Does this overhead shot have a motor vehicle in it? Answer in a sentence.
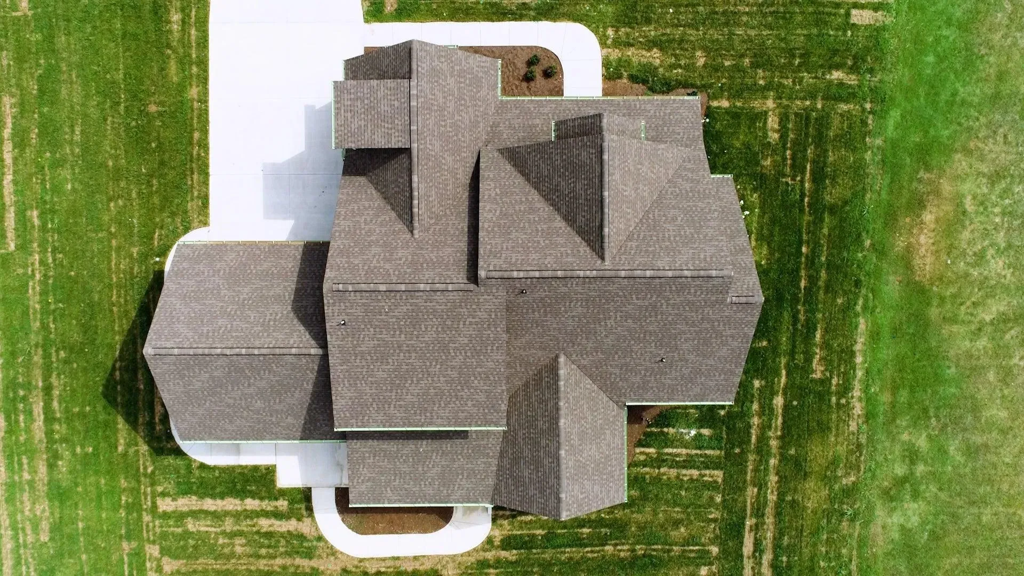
No, no motor vehicle is visible in the view.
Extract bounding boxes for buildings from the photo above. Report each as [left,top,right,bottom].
[144,40,763,519]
